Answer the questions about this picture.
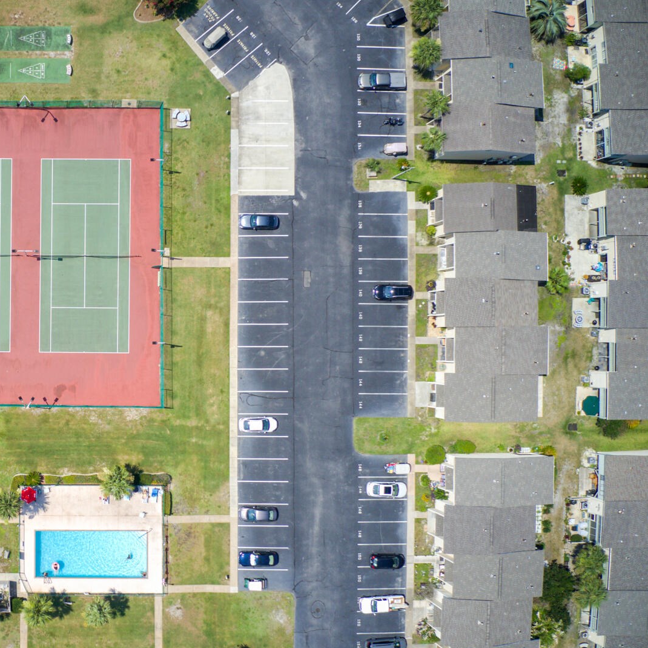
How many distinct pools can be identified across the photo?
1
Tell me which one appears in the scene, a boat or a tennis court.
tennis court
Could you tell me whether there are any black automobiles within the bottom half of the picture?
Yes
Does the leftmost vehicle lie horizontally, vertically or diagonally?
diagonally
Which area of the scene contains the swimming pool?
bottom left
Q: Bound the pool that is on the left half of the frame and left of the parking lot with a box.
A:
[20,485,166,594]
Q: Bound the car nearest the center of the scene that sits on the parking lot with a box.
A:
[371,283,415,302]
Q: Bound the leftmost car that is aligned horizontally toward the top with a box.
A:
[238,212,280,232]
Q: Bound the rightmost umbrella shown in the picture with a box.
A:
[578,396,598,414]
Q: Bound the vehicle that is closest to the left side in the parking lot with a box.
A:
[200,23,233,53]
